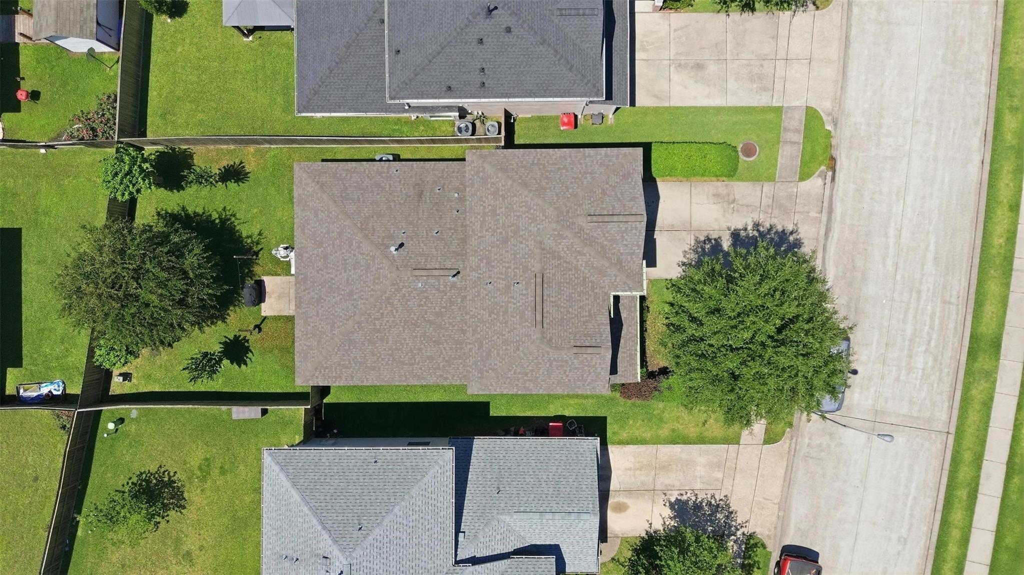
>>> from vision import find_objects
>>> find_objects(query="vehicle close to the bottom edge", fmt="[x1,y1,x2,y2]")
[775,553,822,575]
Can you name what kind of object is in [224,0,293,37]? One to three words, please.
gazebo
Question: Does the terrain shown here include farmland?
No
